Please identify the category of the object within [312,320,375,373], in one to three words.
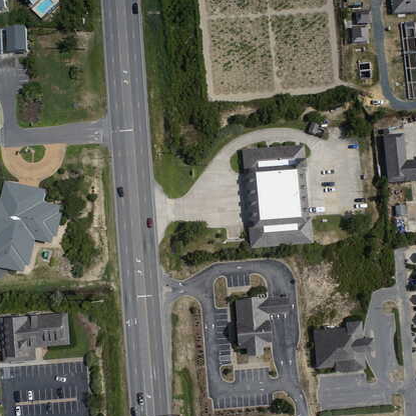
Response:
building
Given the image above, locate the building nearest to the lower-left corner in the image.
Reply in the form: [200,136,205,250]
[2,313,72,362]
